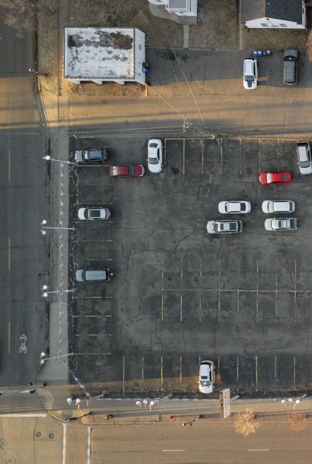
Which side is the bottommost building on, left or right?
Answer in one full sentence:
The bottommost building is on the left side of the image.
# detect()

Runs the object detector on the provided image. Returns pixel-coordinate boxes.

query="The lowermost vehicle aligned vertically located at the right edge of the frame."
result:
[297,142,312,174]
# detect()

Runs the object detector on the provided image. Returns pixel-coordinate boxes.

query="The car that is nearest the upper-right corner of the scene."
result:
[282,51,299,84]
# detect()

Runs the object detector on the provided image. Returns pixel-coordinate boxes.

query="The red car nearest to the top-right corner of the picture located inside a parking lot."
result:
[260,170,292,185]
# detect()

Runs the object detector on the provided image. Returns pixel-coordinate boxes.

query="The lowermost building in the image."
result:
[64,27,145,83]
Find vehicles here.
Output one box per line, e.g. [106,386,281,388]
[78,267,113,283]
[149,140,164,173]
[77,148,110,164]
[220,200,252,215]
[282,51,299,84]
[209,219,245,235]
[80,206,112,221]
[242,58,259,90]
[266,217,298,231]
[260,170,292,185]
[198,360,216,391]
[297,142,312,174]
[264,199,296,214]
[111,163,147,179]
